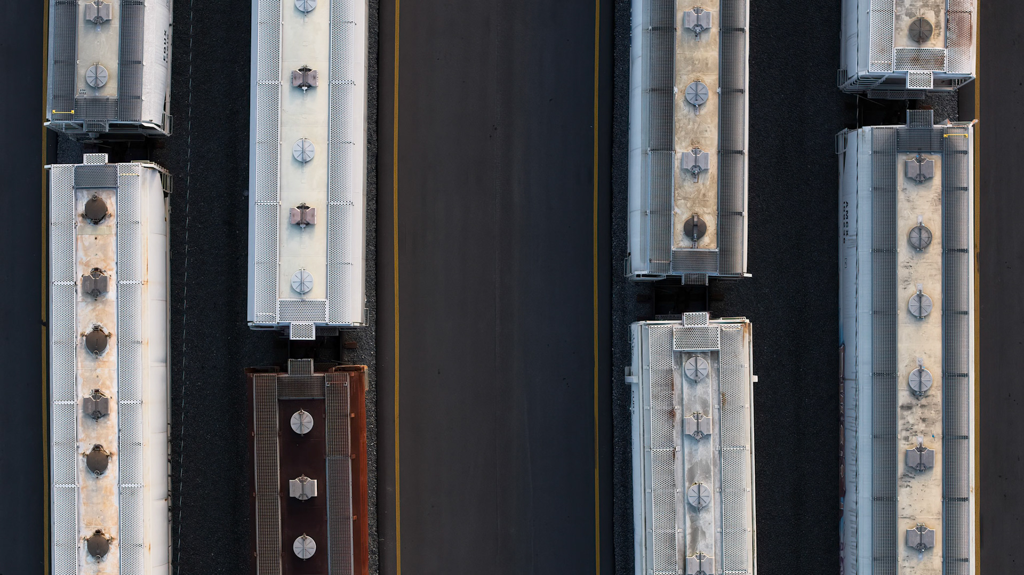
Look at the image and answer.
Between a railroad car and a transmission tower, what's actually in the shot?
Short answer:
railroad car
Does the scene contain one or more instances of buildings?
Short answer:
No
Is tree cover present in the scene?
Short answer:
No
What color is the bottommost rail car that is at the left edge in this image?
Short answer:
white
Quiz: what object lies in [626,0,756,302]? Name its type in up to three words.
rail car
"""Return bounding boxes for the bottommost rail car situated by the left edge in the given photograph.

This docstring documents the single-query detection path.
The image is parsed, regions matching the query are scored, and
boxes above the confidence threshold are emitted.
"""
[42,146,176,575]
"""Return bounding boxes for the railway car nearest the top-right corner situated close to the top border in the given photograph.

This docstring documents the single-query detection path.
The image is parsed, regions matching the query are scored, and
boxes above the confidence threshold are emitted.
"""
[836,0,976,113]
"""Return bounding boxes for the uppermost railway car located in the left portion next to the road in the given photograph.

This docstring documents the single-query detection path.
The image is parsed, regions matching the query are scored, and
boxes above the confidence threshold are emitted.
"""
[42,0,176,156]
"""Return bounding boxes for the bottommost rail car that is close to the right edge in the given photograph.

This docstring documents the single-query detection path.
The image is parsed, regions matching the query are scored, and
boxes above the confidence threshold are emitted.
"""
[836,109,977,575]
